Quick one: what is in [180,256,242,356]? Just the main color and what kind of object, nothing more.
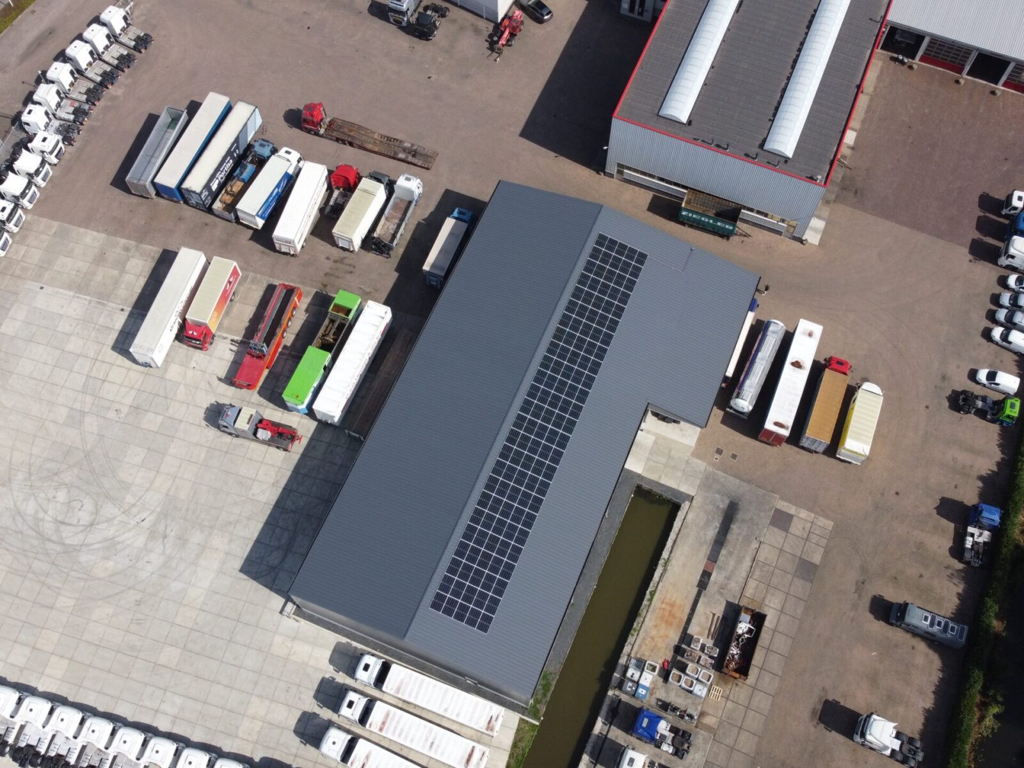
white truck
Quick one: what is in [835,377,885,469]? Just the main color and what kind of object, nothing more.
white truck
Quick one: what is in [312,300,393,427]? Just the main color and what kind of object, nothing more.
white trailer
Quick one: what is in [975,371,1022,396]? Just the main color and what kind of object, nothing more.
white vehicle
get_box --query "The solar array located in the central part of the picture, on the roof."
[432,234,648,633]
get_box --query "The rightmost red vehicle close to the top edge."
[493,10,524,61]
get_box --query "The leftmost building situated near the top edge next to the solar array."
[599,0,893,241]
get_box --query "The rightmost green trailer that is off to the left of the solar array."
[283,290,363,411]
